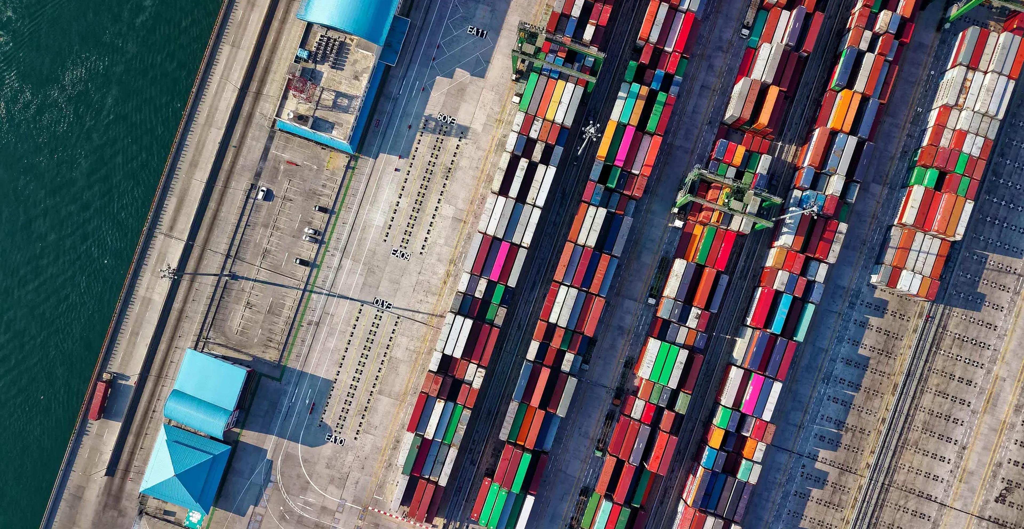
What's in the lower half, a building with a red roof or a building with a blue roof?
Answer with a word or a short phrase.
building with a blue roof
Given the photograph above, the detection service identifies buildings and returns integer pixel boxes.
[164,347,257,439]
[275,13,412,155]
[139,423,231,515]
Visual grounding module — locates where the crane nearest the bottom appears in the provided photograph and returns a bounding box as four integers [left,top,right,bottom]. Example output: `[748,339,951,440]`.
[674,165,791,237]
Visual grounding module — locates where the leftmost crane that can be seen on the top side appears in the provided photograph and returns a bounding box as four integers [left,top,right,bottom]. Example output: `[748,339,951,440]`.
[509,23,610,105]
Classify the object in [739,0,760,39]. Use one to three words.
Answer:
truck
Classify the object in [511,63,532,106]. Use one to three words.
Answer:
truck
